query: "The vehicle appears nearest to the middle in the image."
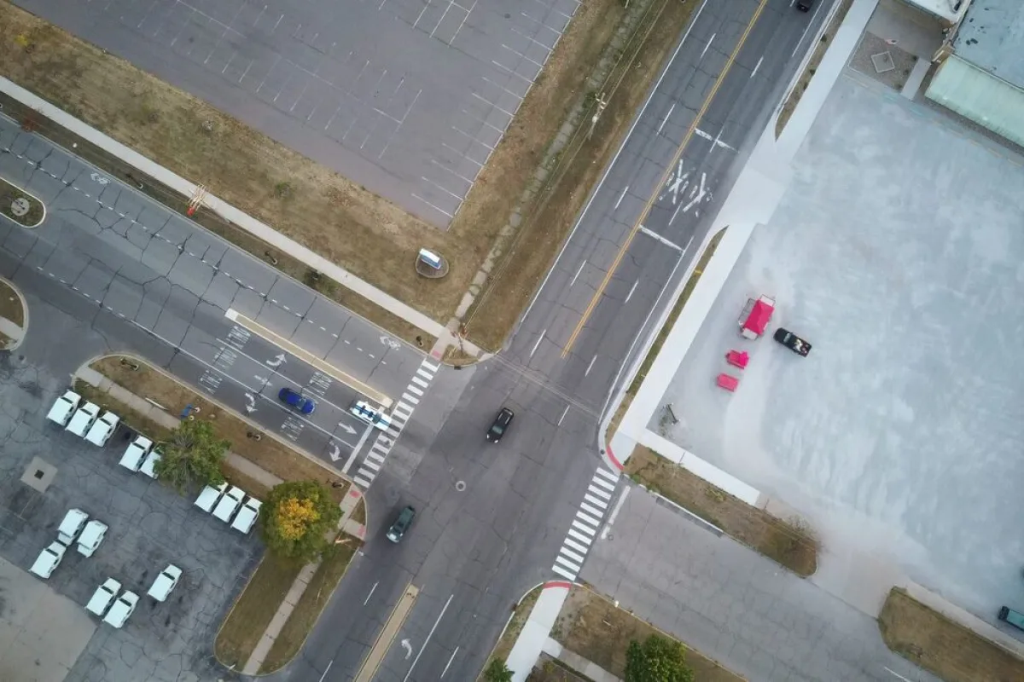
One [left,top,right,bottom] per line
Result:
[487,406,515,444]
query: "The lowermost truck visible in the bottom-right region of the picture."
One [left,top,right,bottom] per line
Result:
[992,600,1024,632]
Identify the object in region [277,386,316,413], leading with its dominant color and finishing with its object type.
blue car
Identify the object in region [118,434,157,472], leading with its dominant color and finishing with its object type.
white van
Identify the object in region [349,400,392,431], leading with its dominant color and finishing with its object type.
white car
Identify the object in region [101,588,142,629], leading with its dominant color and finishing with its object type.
white van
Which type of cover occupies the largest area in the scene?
paved ground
